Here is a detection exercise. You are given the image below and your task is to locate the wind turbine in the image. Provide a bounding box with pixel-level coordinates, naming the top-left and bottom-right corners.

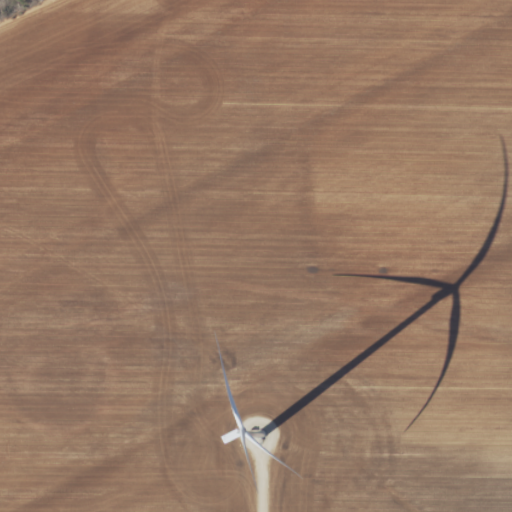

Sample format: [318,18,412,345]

[213,328,317,490]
